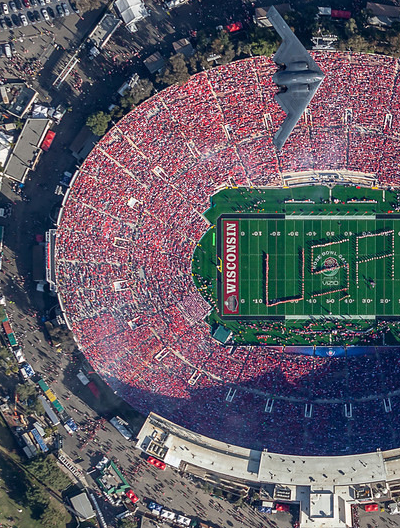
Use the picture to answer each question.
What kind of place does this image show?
sports ground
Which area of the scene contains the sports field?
right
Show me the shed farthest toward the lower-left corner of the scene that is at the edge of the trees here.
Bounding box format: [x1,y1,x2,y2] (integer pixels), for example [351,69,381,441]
[70,492,95,522]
